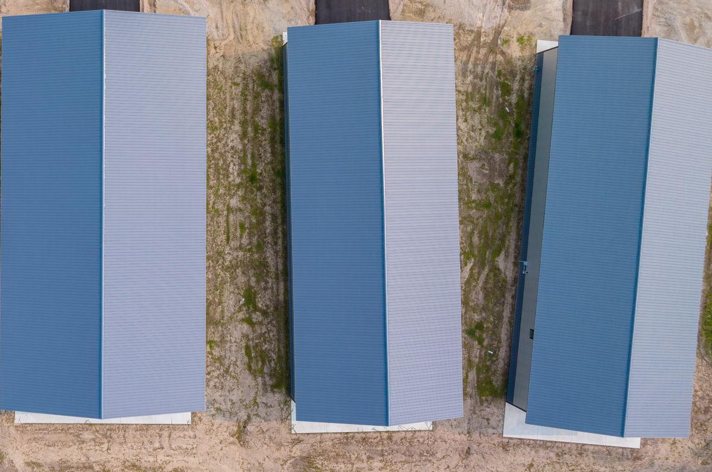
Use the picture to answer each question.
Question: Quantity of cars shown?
zero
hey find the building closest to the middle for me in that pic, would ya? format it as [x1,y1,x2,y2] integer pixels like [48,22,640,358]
[282,19,463,434]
